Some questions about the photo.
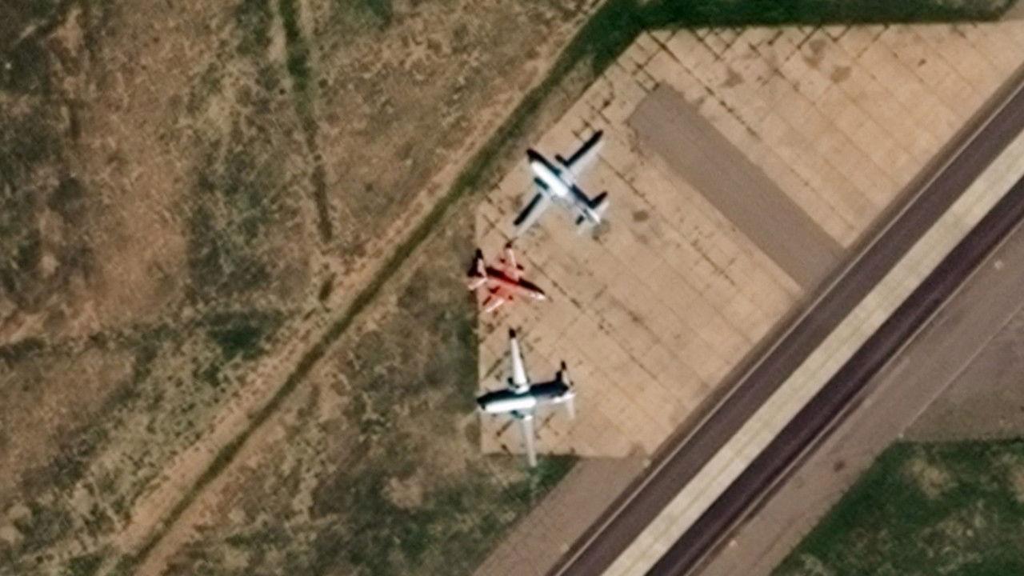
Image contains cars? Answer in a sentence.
No, the frame has no car in it.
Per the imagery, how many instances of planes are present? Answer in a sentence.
The number of planes here is 3.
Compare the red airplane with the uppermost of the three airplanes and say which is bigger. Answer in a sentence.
Compared with the red airplane, the uppermost of the three airplanes is the larger one.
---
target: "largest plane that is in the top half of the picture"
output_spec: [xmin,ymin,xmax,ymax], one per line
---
[517,141,607,235]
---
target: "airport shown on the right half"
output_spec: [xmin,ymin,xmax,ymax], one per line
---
[469,0,1024,576]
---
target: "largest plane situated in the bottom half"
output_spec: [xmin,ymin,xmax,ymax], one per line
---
[482,339,575,464]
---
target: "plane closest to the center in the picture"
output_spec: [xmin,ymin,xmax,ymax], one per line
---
[469,250,546,314]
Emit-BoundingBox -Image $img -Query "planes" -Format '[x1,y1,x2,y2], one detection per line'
[517,141,607,235]
[482,339,575,464]
[469,250,546,314]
